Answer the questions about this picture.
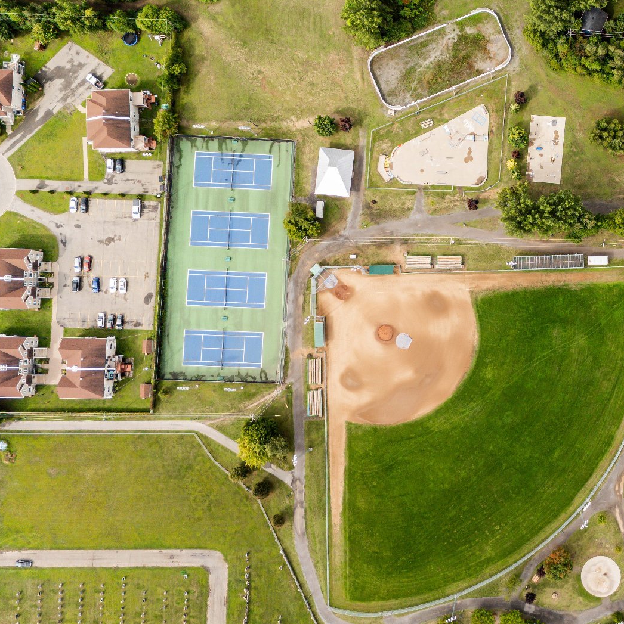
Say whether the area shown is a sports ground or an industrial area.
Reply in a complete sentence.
The picture captures a sports ground.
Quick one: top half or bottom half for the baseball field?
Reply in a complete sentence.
The baseball field is in the bottom half of the image.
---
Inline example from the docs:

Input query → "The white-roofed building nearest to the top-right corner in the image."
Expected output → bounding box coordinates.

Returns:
[315,148,356,198]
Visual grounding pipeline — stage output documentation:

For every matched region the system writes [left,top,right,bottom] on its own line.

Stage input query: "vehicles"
[107,314,115,328]
[133,199,141,218]
[70,197,78,212]
[81,198,88,212]
[110,277,117,293]
[93,278,101,292]
[116,158,124,173]
[86,74,105,88]
[74,256,83,272]
[97,312,106,328]
[16,560,32,567]
[84,256,93,272]
[115,313,125,330]
[120,277,127,293]
[106,158,115,173]
[73,276,81,292]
